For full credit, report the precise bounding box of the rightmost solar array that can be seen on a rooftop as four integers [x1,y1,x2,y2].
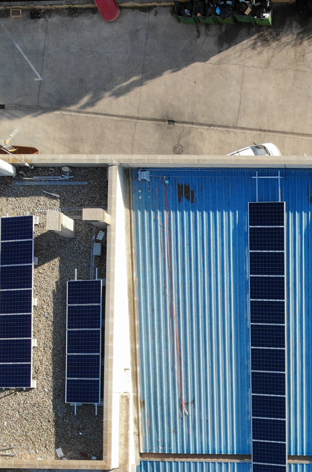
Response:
[247,169,289,472]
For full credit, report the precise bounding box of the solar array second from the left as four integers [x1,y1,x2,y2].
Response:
[65,268,105,414]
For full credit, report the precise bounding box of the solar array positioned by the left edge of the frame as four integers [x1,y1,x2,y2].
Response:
[0,213,39,391]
